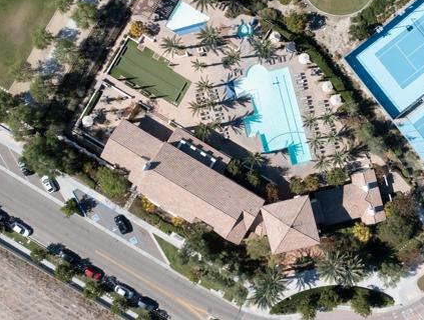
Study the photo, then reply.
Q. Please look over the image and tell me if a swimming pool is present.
Yes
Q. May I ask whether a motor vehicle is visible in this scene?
Yes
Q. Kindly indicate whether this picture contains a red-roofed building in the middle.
No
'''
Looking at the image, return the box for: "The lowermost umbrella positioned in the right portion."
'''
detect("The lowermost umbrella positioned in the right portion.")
[328,93,342,106]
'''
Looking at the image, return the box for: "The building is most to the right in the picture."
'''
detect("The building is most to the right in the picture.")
[343,168,385,223]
